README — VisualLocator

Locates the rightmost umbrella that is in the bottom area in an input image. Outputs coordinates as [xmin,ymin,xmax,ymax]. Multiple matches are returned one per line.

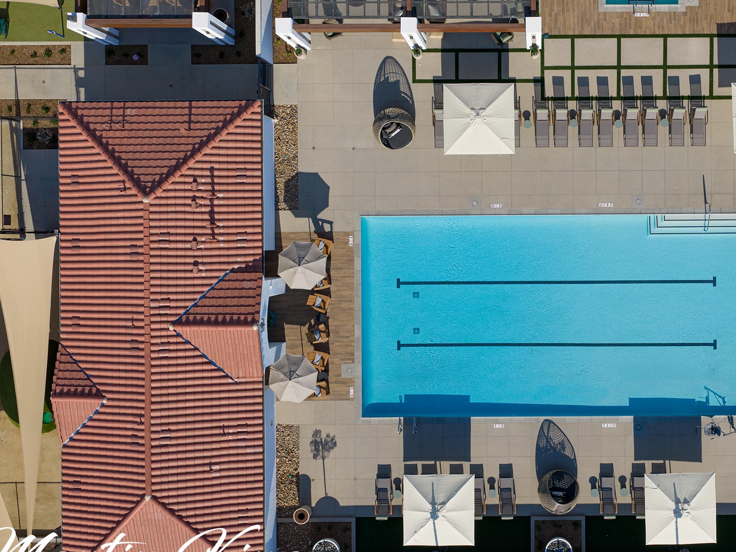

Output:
[644,472,717,545]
